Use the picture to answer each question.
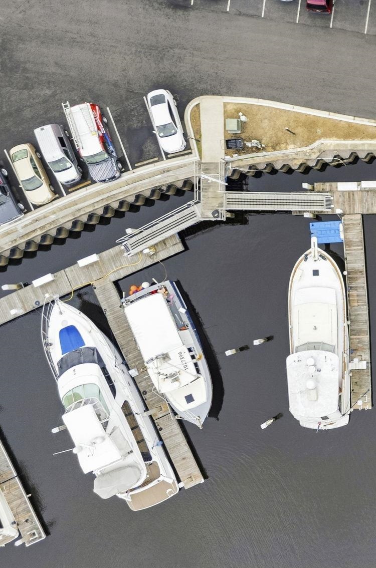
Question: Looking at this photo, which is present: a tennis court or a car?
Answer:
car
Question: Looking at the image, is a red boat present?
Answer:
No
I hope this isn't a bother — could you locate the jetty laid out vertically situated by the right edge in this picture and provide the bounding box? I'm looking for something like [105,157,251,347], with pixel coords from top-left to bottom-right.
[342,214,375,410]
